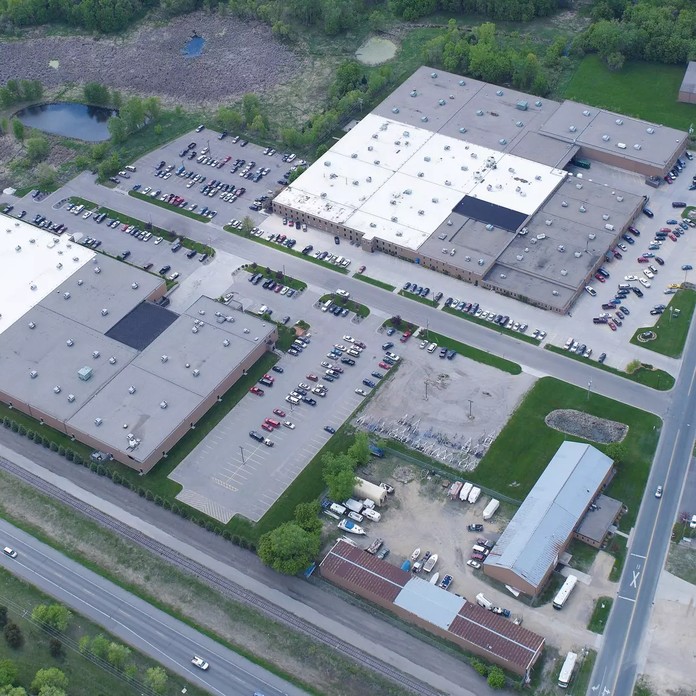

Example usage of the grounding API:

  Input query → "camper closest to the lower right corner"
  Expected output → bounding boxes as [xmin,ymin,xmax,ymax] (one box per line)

[559,650,577,686]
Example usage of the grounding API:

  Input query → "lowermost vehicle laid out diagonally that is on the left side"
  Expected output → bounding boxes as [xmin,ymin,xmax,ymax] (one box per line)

[189,654,209,670]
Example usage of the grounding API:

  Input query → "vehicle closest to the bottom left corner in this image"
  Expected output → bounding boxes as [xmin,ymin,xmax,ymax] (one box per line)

[2,545,18,558]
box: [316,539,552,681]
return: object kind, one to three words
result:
shed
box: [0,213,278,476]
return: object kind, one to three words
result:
building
